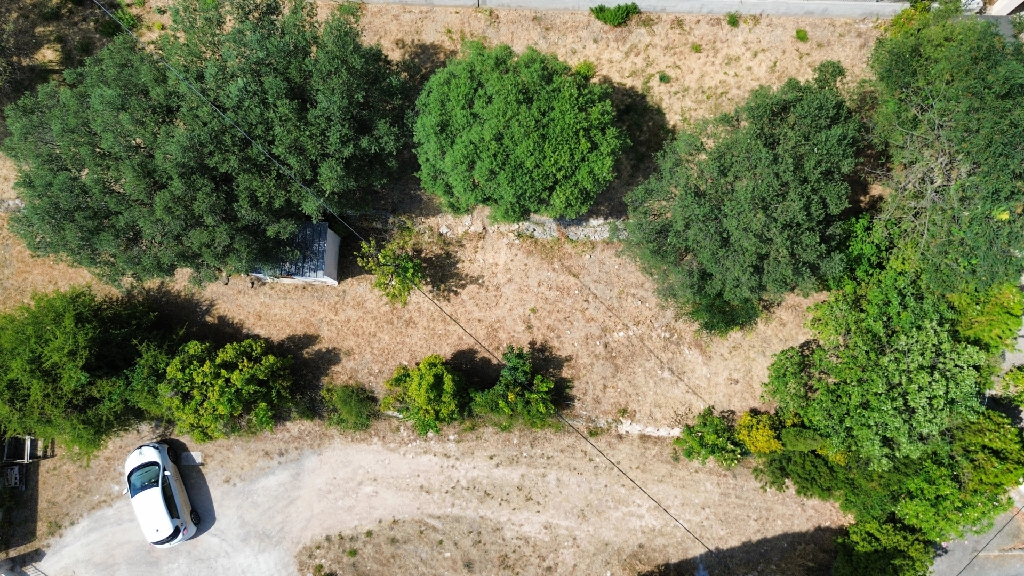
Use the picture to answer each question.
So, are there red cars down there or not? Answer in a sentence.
No, this view has no red car in it.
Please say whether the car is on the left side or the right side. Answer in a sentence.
You can find the car on the left side of the picture.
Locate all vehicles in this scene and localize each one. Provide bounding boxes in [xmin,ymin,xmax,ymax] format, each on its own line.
[121,441,201,552]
